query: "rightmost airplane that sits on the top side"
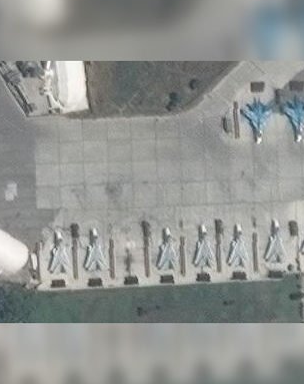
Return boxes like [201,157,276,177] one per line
[283,98,304,142]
